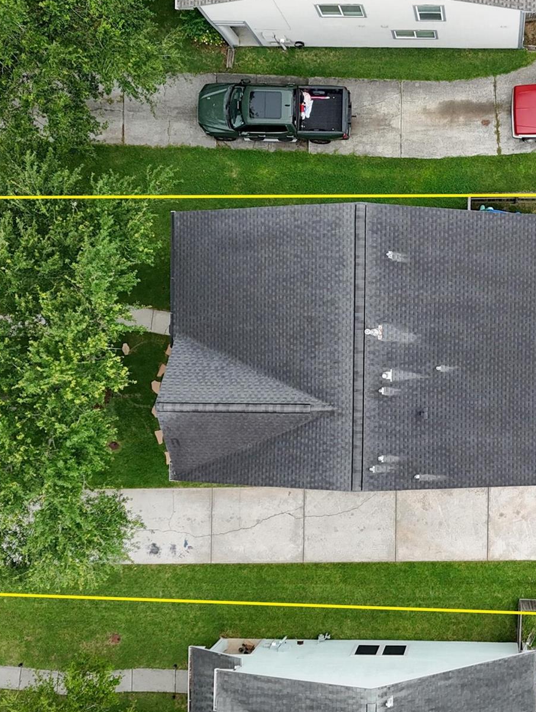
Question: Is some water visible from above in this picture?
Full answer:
No, there's no water in this view.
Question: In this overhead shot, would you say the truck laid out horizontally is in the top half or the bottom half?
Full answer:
You can find the truck laid out horizontally in the top half.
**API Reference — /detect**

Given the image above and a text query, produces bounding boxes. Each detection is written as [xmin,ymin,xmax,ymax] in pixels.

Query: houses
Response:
[174,0,536,59]
[185,634,536,712]
[155,202,536,492]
